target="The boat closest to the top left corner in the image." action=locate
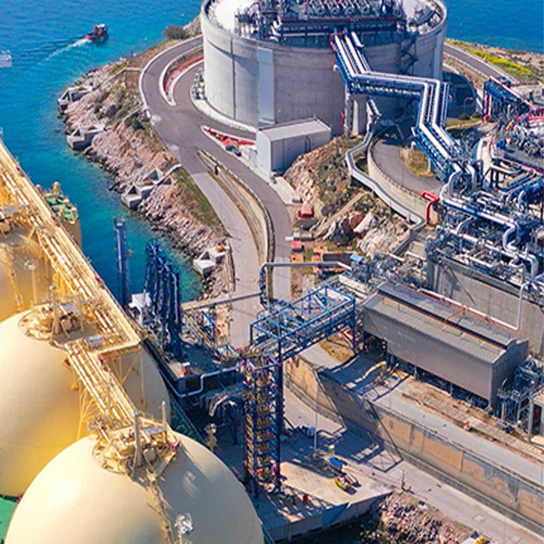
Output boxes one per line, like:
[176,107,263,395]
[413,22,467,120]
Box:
[83,22,107,41]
